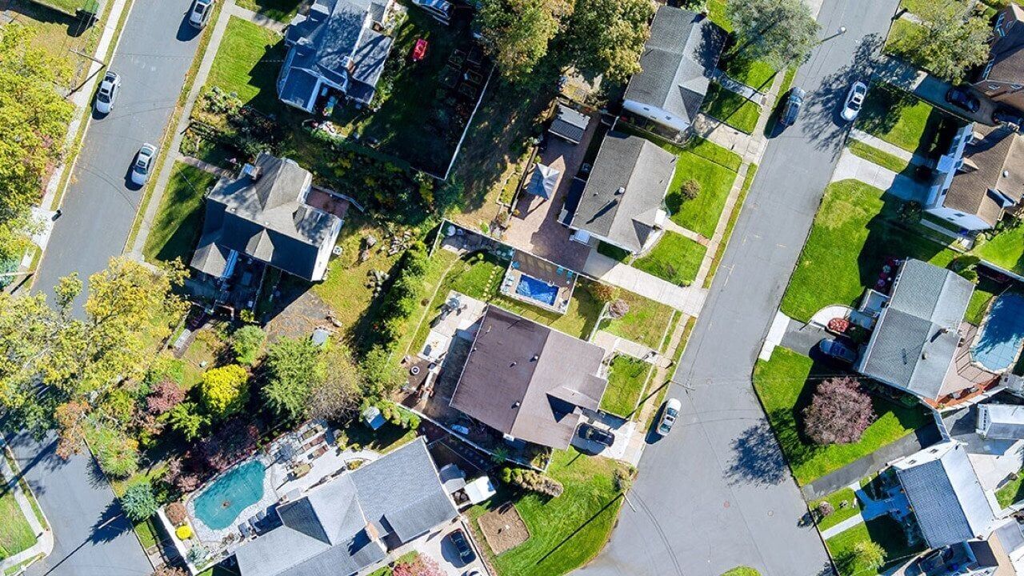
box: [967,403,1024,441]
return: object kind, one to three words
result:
building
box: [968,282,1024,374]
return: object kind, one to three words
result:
swimming pool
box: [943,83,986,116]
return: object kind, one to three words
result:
car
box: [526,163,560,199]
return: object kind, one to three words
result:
gazebo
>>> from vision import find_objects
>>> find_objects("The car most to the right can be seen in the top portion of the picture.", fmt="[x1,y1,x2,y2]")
[988,106,1023,125]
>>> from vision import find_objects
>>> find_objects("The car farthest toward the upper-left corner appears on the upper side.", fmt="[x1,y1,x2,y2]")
[96,69,122,115]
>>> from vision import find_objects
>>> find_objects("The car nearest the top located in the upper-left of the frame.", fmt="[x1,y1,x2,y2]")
[188,0,217,32]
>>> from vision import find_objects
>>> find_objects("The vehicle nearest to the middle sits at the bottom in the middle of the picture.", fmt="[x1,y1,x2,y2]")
[575,421,616,448]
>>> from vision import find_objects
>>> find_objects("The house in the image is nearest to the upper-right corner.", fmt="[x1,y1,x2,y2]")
[964,5,1024,111]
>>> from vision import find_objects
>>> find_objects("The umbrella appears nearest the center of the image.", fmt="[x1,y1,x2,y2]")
[447,297,461,311]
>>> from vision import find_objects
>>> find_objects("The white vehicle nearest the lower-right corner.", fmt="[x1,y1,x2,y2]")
[654,395,682,440]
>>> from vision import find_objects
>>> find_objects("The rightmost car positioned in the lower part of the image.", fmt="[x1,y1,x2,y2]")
[817,335,859,366]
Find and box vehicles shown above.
[988,106,1023,125]
[943,83,986,116]
[188,0,217,32]
[96,69,122,115]
[777,83,807,129]
[817,335,859,366]
[131,141,158,187]
[654,395,682,440]
[466,563,488,576]
[575,421,616,448]
[447,527,476,568]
